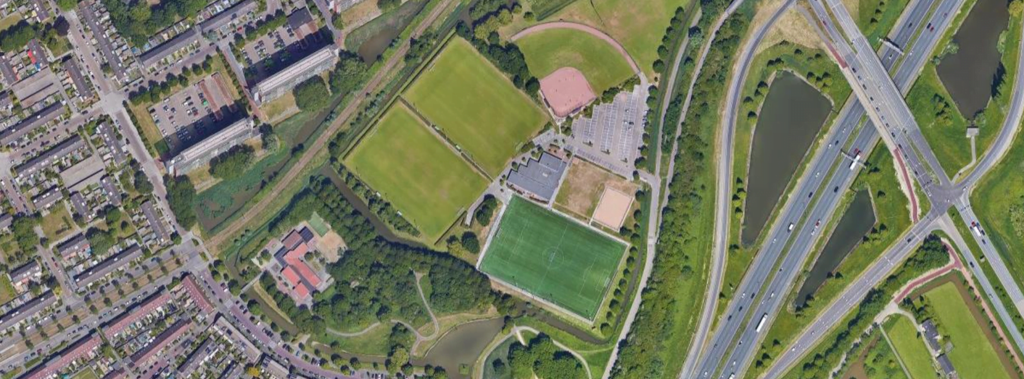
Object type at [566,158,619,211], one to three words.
sports field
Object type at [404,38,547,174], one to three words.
soccer field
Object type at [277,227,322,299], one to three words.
building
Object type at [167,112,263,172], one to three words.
building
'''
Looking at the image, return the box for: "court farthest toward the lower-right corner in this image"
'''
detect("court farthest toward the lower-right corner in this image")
[591,187,633,232]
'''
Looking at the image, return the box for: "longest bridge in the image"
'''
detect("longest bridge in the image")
[841,39,917,151]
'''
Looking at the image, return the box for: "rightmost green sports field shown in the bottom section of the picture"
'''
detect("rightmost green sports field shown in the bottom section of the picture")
[477,191,634,325]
